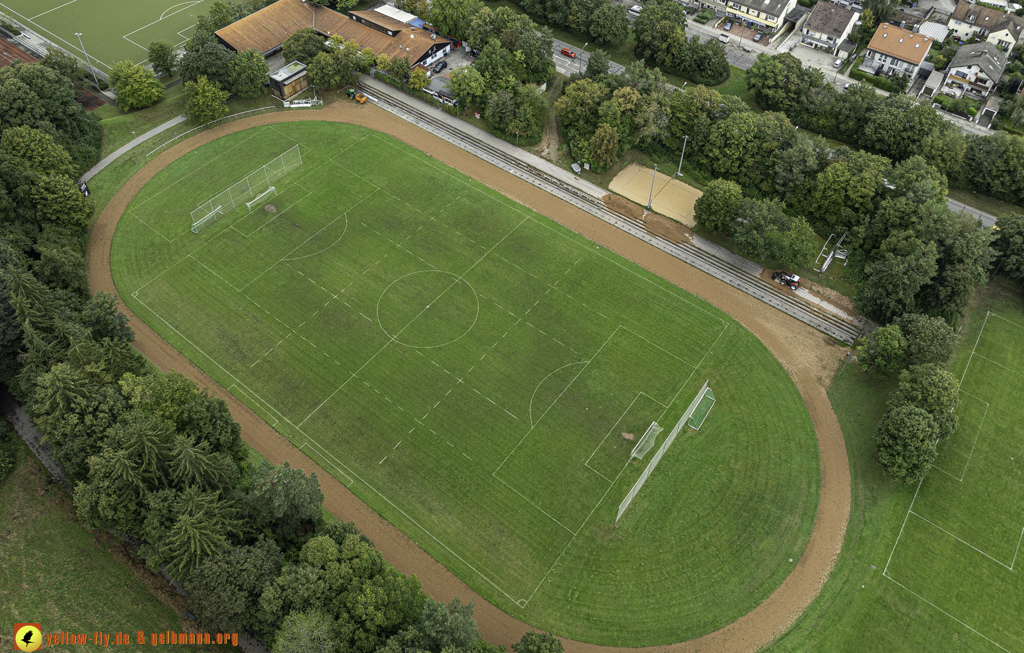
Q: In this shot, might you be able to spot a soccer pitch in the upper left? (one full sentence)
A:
Yes, I can see a soccer pitch in the upper left.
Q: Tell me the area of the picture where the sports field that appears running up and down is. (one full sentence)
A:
Look in the bottom right portion of the view to spot the sports field that appears running up and down.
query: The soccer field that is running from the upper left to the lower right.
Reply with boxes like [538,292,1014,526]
[116,122,819,644]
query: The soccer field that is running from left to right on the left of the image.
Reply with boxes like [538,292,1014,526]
[0,0,282,79]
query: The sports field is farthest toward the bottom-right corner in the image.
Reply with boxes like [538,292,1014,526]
[883,314,1024,653]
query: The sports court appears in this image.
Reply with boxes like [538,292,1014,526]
[609,162,707,227]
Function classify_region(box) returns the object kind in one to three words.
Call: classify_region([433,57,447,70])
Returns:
vehicle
